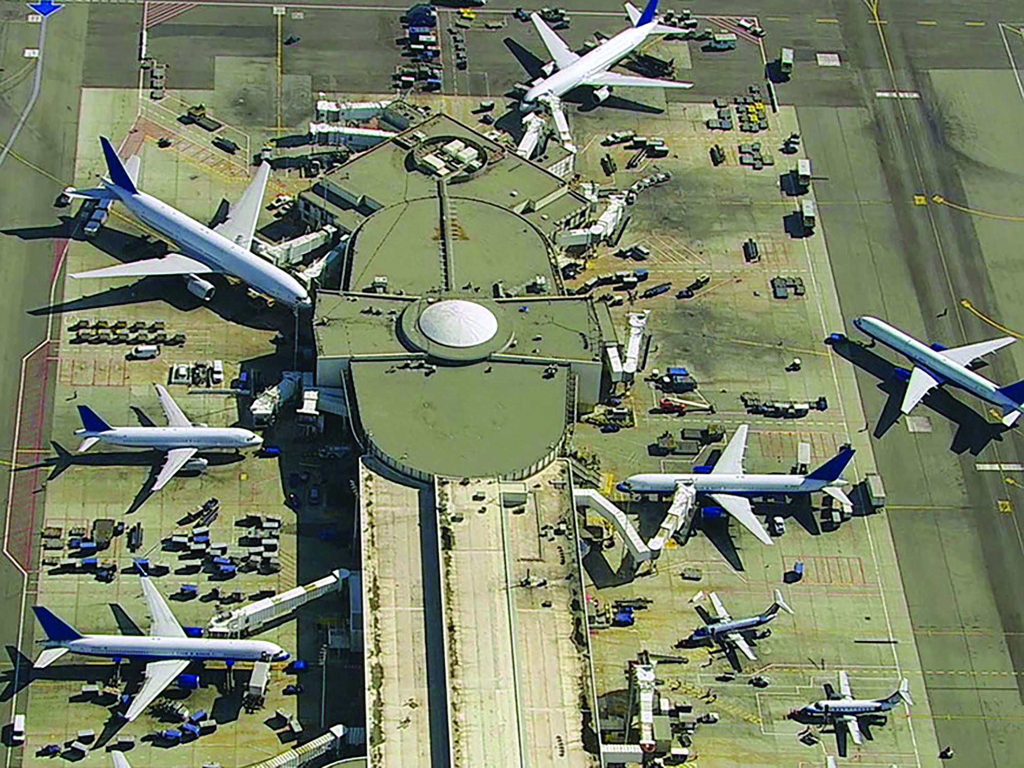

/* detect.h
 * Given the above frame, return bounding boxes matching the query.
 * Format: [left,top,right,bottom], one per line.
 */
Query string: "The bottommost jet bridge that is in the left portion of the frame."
[240,721,364,768]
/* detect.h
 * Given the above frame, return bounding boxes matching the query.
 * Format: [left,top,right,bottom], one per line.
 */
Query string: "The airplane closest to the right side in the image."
[853,318,1024,429]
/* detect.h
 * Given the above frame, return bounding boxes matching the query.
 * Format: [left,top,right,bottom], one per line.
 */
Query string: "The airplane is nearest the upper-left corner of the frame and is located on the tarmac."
[64,133,311,307]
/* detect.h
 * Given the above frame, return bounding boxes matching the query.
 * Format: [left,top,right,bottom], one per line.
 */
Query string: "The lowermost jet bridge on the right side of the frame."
[600,665,660,768]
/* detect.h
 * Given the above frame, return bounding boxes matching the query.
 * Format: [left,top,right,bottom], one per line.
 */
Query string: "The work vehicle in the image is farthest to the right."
[936,748,955,763]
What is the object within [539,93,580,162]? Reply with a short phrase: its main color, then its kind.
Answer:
white jet bridge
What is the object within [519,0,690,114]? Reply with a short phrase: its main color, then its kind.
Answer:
white airplane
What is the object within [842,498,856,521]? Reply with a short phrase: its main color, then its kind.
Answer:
white vehicle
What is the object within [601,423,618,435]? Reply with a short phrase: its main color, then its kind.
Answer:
black vehicle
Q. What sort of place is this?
airport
